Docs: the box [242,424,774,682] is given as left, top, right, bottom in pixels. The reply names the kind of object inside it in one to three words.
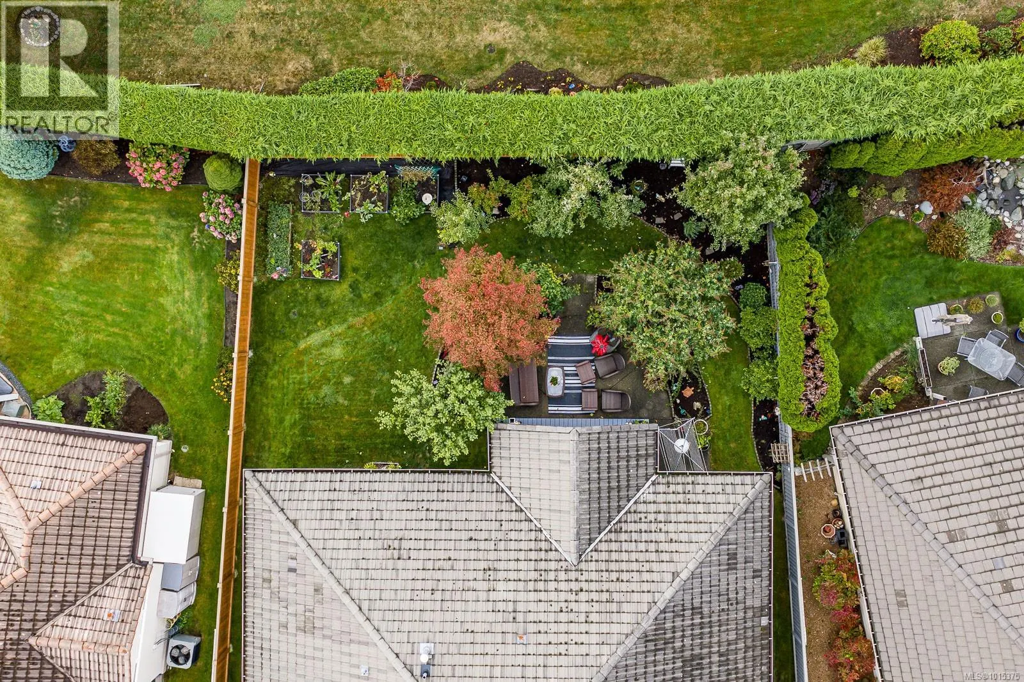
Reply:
house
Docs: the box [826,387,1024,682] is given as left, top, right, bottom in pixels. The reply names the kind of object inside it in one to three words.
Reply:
house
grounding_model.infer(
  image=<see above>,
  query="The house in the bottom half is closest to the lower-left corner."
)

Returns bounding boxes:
[0,416,169,682]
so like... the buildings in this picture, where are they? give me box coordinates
[242,424,774,682]
[0,416,169,682]
[826,387,1024,682]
